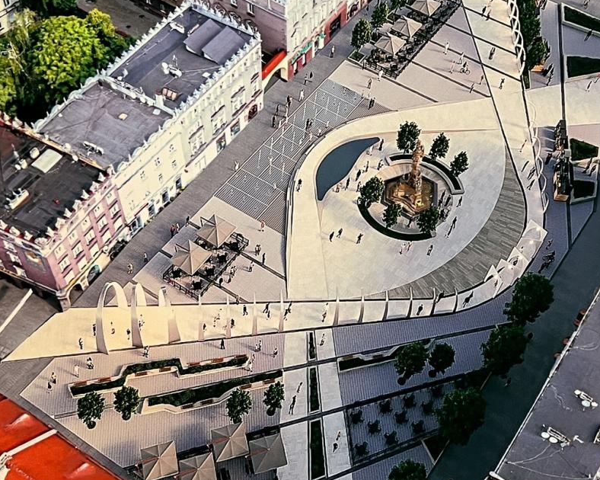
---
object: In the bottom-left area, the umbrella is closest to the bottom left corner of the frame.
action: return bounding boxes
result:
[137,440,180,480]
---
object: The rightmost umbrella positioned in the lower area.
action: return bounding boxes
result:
[248,432,289,473]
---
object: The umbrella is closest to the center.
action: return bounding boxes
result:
[195,216,237,249]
